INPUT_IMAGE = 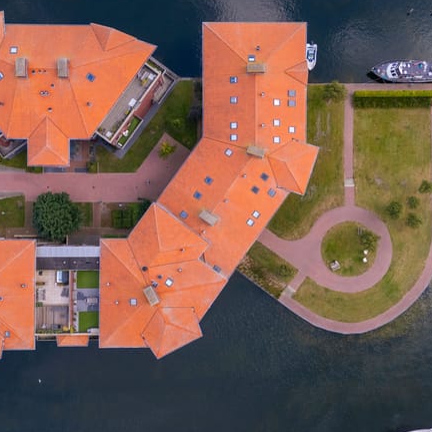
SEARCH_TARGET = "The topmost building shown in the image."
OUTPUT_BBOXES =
[0,11,156,166]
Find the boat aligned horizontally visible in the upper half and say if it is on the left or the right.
right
